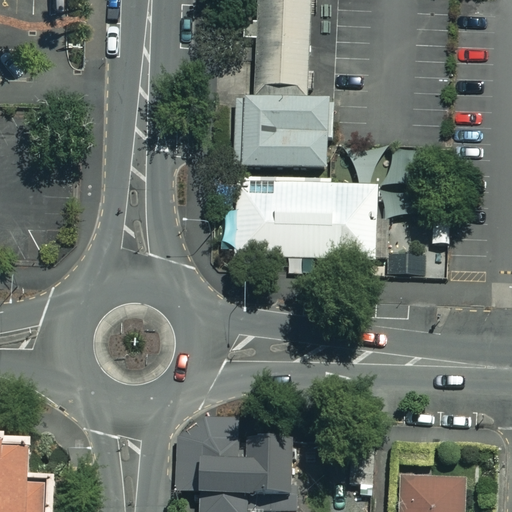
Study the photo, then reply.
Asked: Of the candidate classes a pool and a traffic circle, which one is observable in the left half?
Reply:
traffic circle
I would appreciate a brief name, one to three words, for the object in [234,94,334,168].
house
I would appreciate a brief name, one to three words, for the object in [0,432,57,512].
building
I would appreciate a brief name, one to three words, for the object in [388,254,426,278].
shed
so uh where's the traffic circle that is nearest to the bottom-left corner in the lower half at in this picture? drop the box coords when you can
[92,302,176,386]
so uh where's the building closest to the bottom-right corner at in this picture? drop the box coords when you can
[398,474,467,512]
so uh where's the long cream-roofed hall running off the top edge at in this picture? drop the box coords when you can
[244,0,310,96]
